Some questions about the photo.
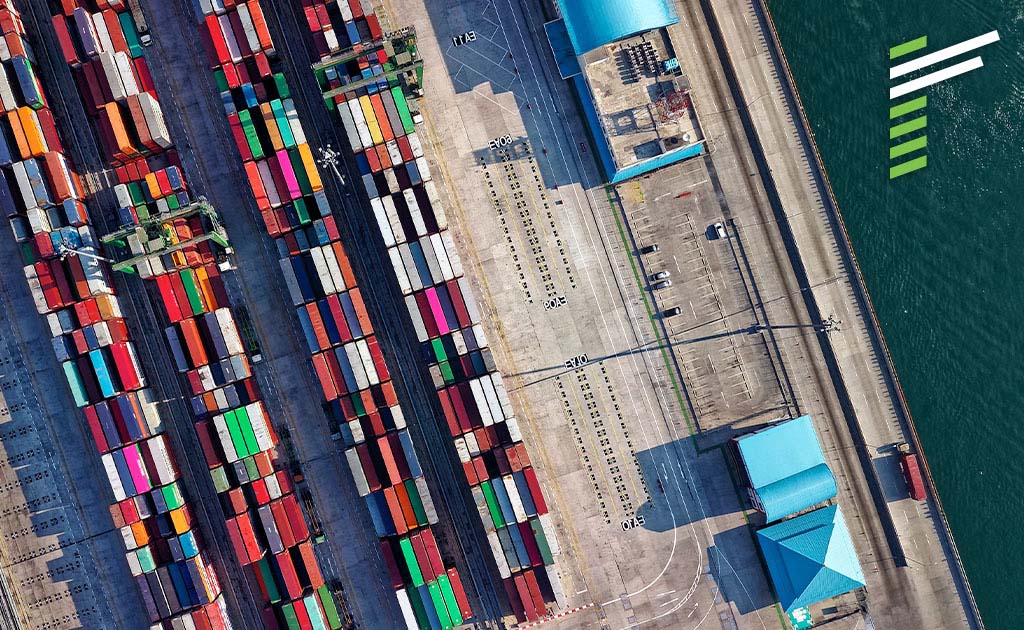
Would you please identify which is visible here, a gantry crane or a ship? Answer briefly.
gantry crane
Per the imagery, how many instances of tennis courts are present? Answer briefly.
none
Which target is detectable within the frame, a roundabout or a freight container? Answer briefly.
freight container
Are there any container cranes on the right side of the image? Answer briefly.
No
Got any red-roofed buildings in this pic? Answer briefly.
No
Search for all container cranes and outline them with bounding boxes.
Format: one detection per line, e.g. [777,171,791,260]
[98,199,241,283]
[311,27,432,132]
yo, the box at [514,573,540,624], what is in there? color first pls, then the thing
red shipping container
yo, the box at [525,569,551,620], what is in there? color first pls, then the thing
red shipping container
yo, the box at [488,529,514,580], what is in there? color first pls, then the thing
white shipping container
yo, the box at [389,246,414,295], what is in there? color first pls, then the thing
white shipping container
